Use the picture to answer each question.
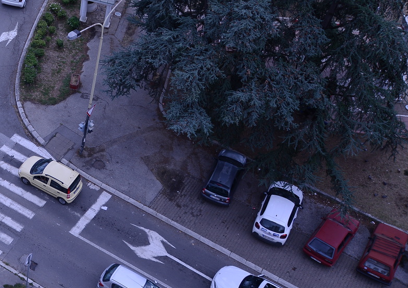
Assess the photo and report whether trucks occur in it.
No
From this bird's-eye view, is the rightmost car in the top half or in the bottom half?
bottom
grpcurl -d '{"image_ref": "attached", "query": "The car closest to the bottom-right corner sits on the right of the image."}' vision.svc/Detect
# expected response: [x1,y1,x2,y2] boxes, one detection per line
[361,220,408,286]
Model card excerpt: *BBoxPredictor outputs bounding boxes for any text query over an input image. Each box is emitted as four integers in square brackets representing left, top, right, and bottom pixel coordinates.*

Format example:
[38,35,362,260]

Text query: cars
[361,220,408,286]
[254,180,306,249]
[202,146,252,207]
[305,207,362,267]
[2,0,27,8]
[17,157,84,205]
[210,267,281,288]
[94,259,160,288]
